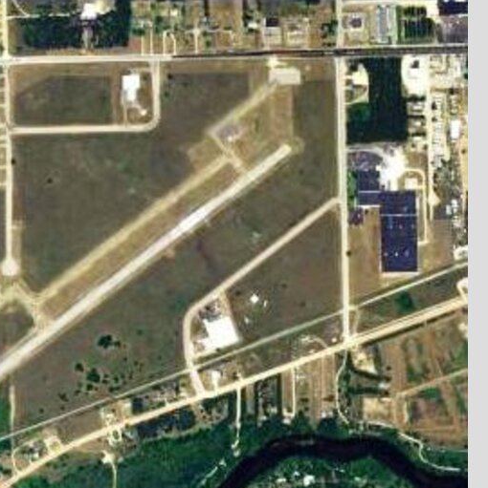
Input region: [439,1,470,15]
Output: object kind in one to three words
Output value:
building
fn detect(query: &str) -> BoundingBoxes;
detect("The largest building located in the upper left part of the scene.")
[122,74,140,100]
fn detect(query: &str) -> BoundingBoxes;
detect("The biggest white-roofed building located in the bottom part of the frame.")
[196,316,240,351]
